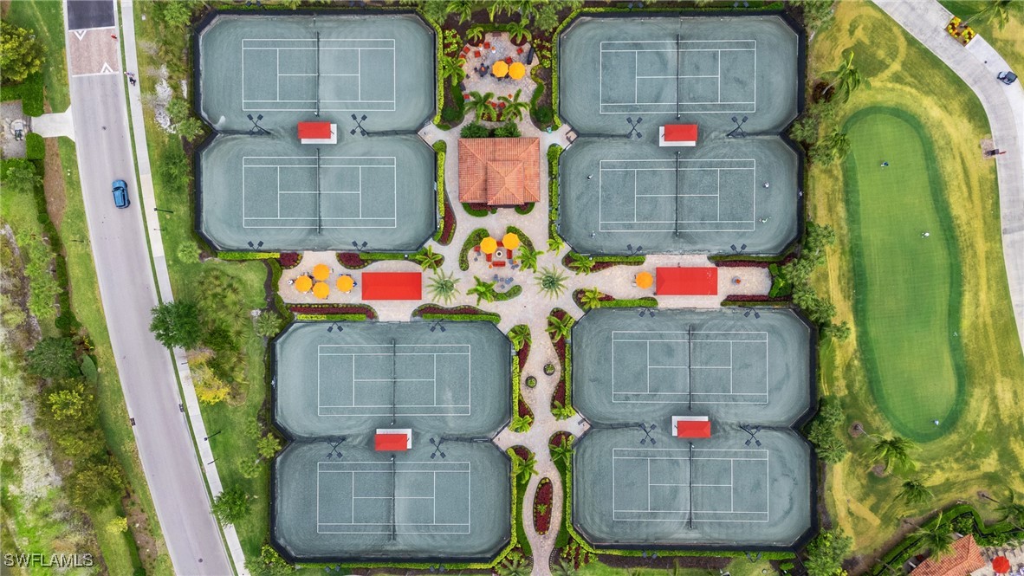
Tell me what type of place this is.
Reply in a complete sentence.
This looks like a sports ground.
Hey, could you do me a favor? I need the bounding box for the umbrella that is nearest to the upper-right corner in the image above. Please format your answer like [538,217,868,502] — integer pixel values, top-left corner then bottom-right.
[635,271,652,288]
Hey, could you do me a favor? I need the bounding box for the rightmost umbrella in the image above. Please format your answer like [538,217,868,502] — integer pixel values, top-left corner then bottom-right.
[988,555,1009,572]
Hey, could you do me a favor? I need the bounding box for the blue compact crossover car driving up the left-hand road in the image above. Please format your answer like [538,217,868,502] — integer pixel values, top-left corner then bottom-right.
[109,179,128,208]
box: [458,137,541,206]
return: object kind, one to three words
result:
building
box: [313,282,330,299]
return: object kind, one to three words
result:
umbrella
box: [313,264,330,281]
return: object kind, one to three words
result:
umbrella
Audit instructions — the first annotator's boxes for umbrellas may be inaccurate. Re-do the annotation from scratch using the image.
[503,233,520,250]
[635,271,652,288]
[988,555,1009,572]
[313,264,330,281]
[337,276,354,292]
[480,238,496,254]
[509,63,524,79]
[313,282,330,299]
[493,61,508,77]
[296,275,313,292]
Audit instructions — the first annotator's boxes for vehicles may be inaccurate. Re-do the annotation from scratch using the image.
[109,179,128,208]
[997,71,1020,84]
